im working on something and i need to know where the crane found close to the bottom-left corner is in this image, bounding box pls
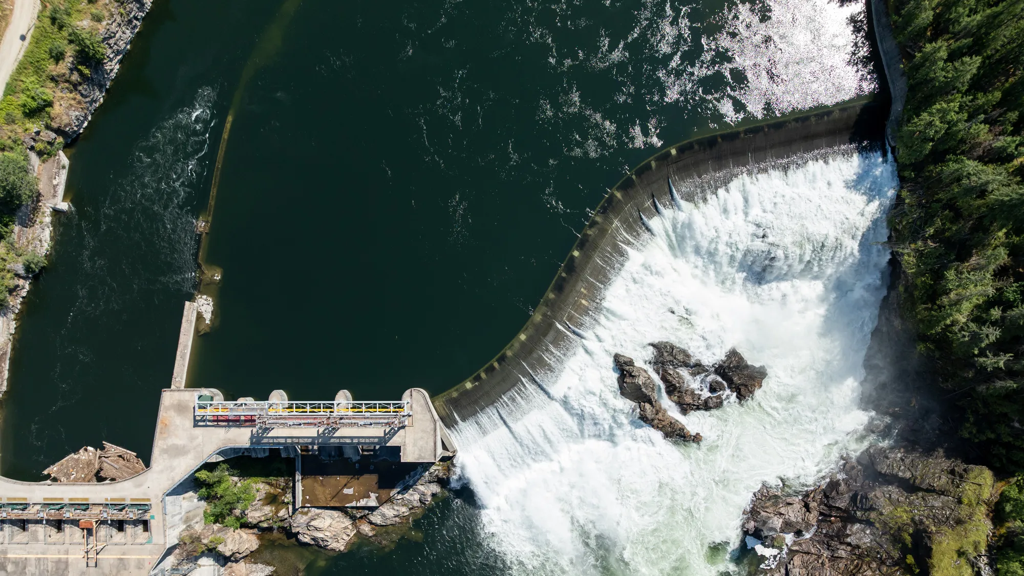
[80,518,108,562]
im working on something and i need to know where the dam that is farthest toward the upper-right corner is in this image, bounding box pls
[432,94,881,438]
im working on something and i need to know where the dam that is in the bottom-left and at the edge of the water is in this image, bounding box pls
[0,388,458,576]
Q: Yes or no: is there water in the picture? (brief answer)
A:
Yes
